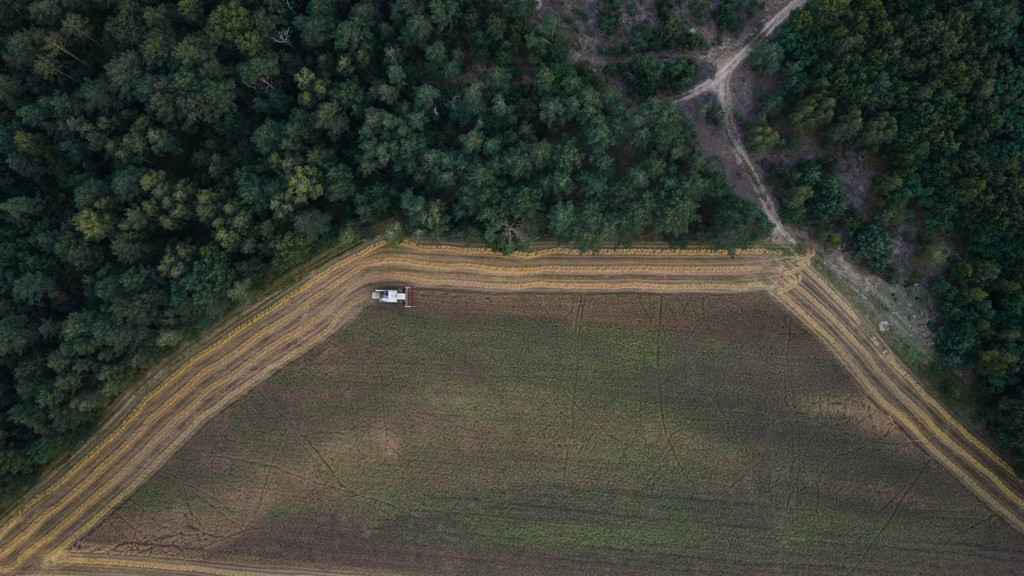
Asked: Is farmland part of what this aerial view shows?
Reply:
Yes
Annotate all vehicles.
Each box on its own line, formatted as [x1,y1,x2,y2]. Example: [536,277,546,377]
[371,287,412,307]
